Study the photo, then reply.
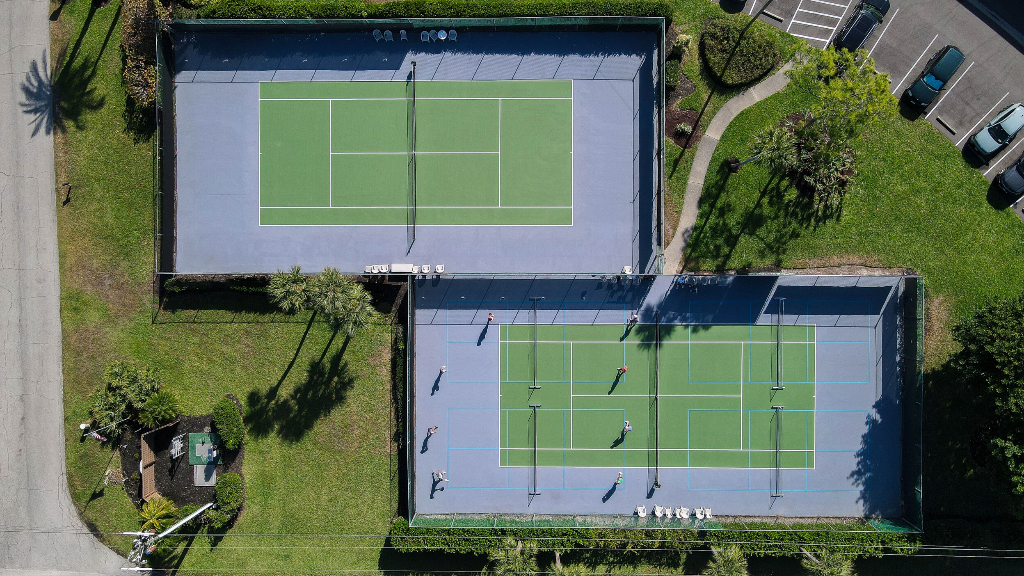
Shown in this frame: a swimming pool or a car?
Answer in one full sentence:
This aerial view contains a car.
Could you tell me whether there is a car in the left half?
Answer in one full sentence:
No, looking in the left half, there is no car.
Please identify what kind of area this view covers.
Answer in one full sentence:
This looks like a sports ground.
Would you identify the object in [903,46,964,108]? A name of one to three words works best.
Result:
car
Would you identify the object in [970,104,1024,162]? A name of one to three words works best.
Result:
car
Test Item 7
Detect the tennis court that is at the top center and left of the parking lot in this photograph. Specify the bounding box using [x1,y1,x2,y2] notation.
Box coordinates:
[175,30,658,274]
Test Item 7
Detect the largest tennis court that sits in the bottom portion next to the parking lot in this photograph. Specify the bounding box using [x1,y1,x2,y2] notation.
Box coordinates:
[416,275,902,518]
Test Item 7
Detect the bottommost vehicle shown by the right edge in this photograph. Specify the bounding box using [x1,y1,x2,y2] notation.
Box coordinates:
[992,143,1024,193]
